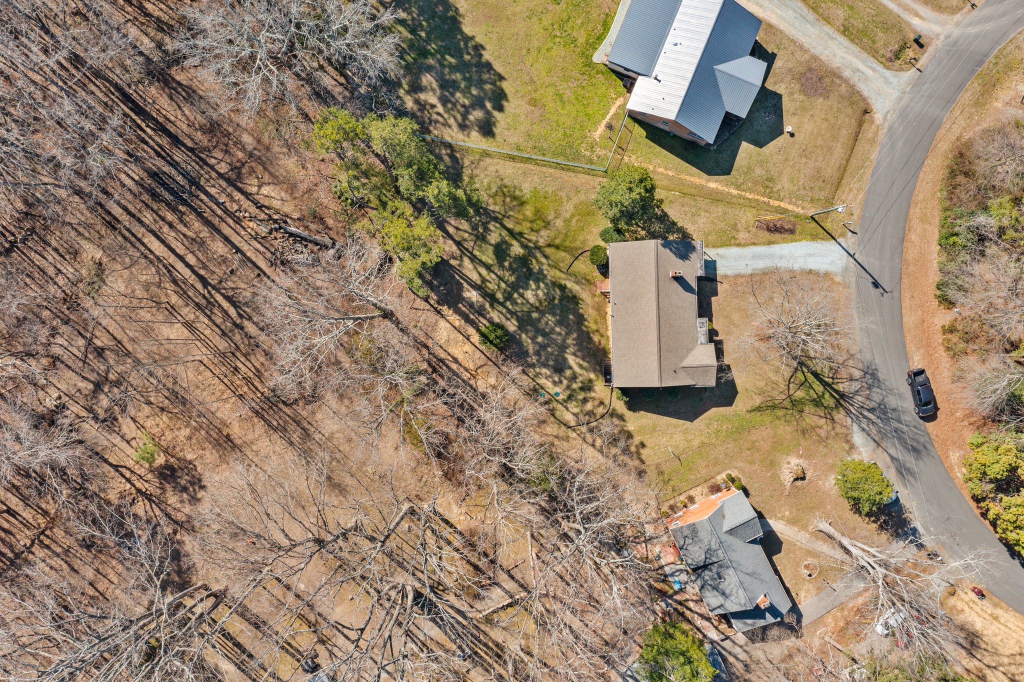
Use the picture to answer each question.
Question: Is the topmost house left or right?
right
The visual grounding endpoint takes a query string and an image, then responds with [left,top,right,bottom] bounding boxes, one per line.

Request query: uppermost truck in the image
[907,367,938,422]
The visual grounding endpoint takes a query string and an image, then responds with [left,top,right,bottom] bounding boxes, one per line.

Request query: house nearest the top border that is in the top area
[608,0,767,155]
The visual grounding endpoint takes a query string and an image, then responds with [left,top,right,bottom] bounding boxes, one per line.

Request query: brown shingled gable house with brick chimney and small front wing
[608,240,717,388]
